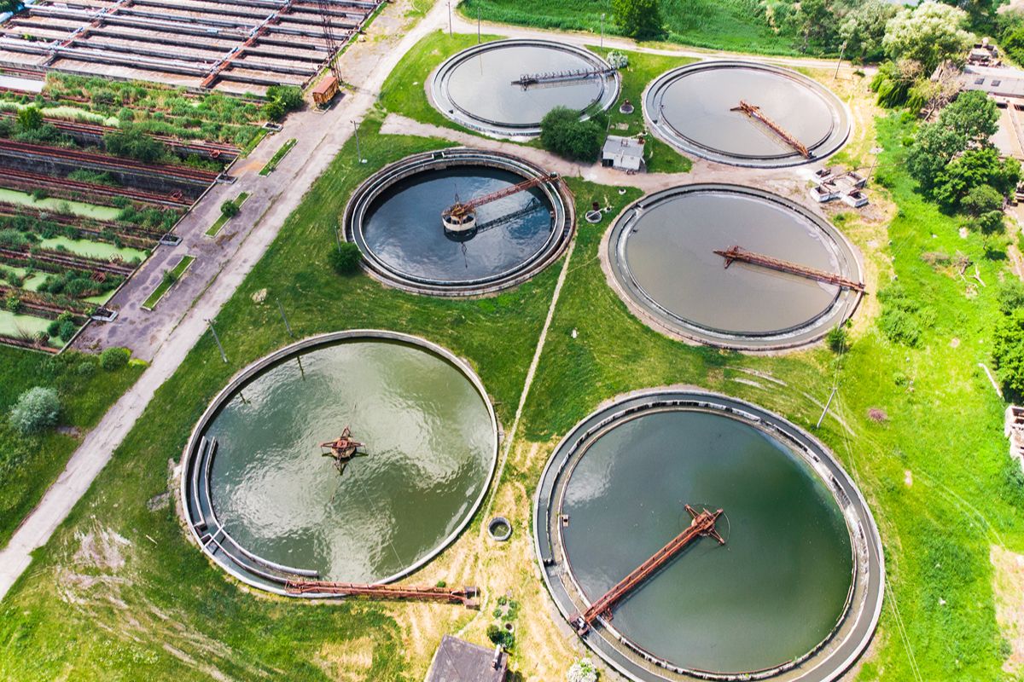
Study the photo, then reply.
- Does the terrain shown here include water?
Yes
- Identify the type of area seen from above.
industrial area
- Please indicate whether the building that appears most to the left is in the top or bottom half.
bottom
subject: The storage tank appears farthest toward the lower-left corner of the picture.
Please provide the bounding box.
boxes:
[183,328,496,595]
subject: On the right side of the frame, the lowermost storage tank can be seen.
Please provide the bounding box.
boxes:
[534,390,882,682]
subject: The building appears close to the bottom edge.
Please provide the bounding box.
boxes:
[429,635,507,682]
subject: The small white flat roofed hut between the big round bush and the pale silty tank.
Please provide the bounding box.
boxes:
[602,133,647,175]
